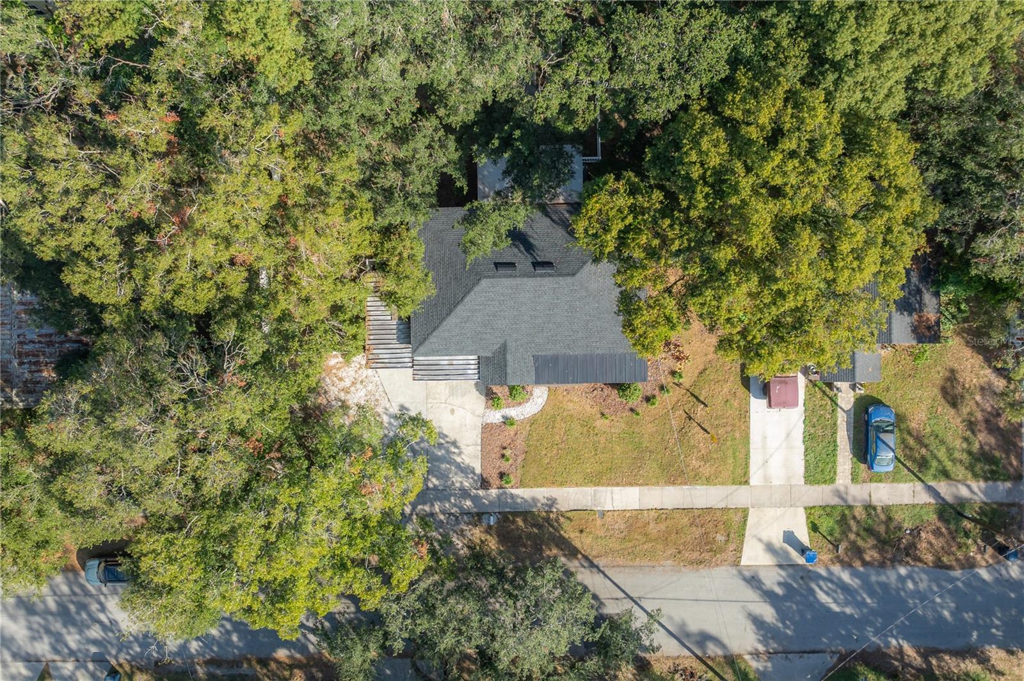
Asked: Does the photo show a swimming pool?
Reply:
No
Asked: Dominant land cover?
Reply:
trees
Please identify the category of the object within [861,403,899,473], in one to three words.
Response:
car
